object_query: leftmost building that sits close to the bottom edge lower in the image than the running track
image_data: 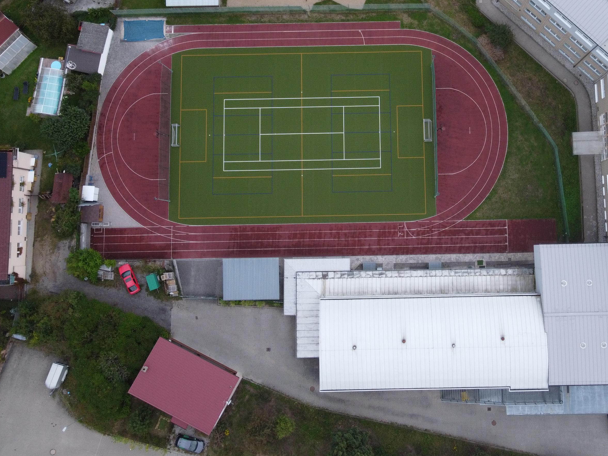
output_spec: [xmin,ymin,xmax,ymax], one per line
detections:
[124,336,240,435]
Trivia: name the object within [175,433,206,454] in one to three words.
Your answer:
car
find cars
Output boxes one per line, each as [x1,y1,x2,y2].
[175,433,206,454]
[120,263,140,295]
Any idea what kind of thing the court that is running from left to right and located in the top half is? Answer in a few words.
tennis court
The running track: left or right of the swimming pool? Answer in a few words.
right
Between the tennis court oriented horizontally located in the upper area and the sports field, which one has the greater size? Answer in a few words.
the sports field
